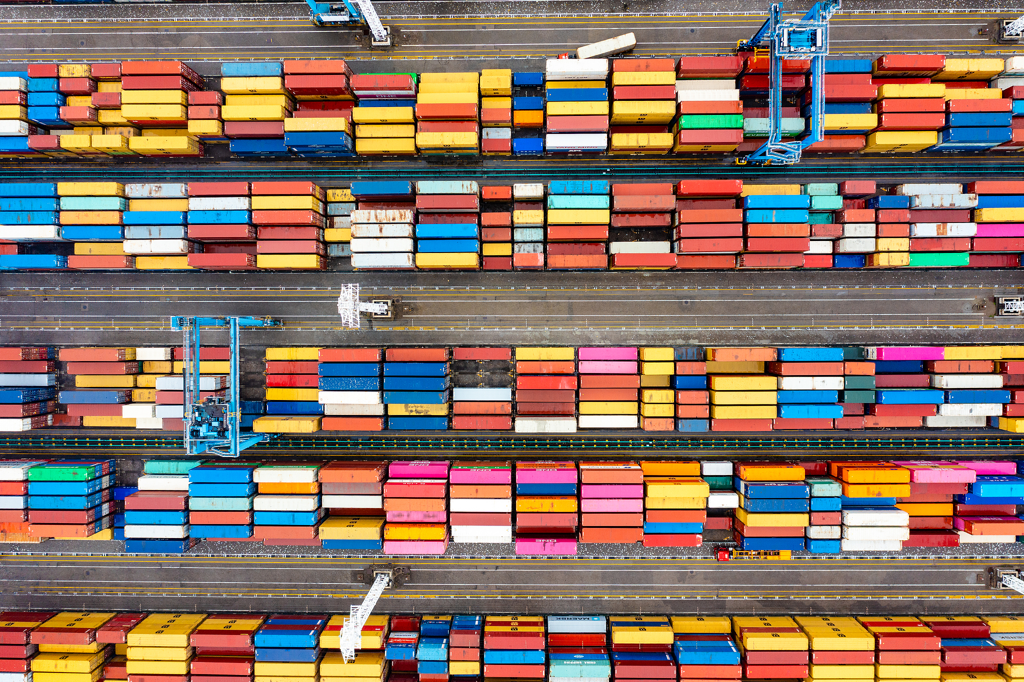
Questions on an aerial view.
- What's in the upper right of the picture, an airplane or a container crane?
container crane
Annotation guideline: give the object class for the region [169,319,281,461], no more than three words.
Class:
container crane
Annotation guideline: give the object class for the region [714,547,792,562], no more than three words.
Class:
vehicle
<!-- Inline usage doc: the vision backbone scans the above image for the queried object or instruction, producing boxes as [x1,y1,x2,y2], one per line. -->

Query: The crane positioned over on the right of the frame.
[735,0,834,168]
